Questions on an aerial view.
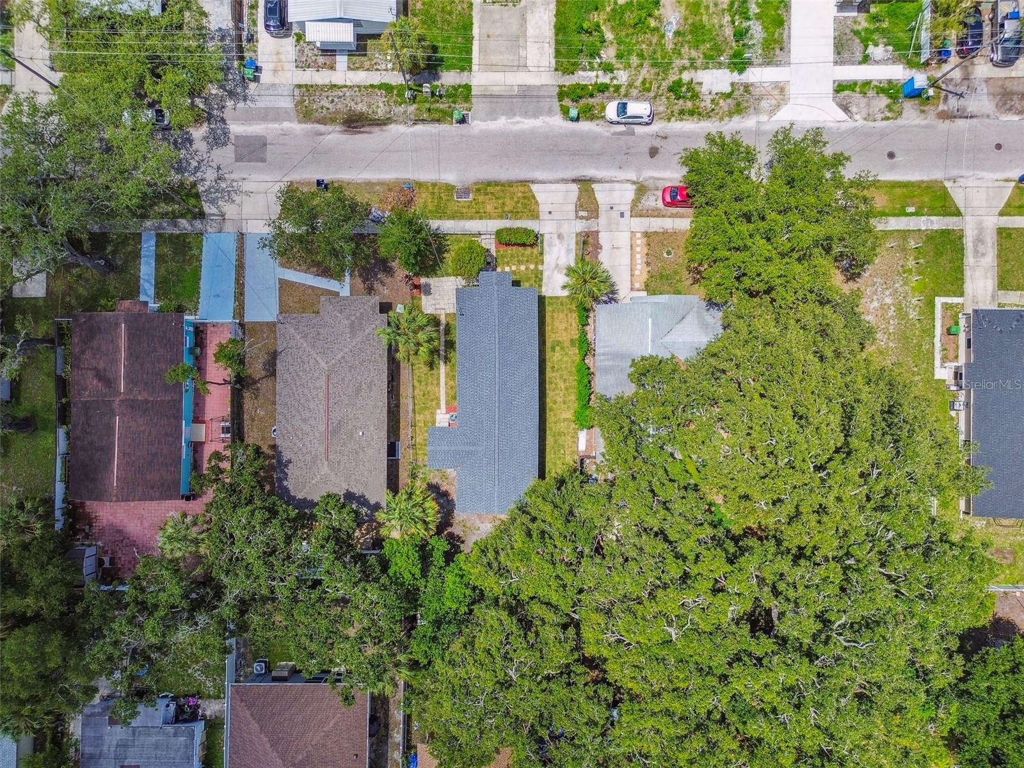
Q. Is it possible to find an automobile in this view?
Yes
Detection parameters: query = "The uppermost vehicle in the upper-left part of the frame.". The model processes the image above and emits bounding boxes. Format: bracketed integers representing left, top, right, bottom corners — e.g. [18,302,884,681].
[263,0,288,34]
